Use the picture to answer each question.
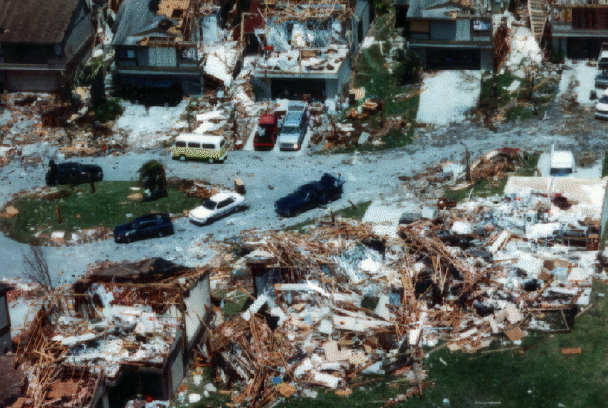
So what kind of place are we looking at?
residential area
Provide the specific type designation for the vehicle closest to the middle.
truck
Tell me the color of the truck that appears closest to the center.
black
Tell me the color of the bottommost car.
black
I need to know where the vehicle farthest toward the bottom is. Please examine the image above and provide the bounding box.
[113,212,174,244]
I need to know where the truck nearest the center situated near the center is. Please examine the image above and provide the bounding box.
[269,161,353,215]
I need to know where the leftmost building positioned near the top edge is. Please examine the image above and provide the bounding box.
[0,0,98,93]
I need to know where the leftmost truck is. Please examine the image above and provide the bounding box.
[38,154,108,185]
